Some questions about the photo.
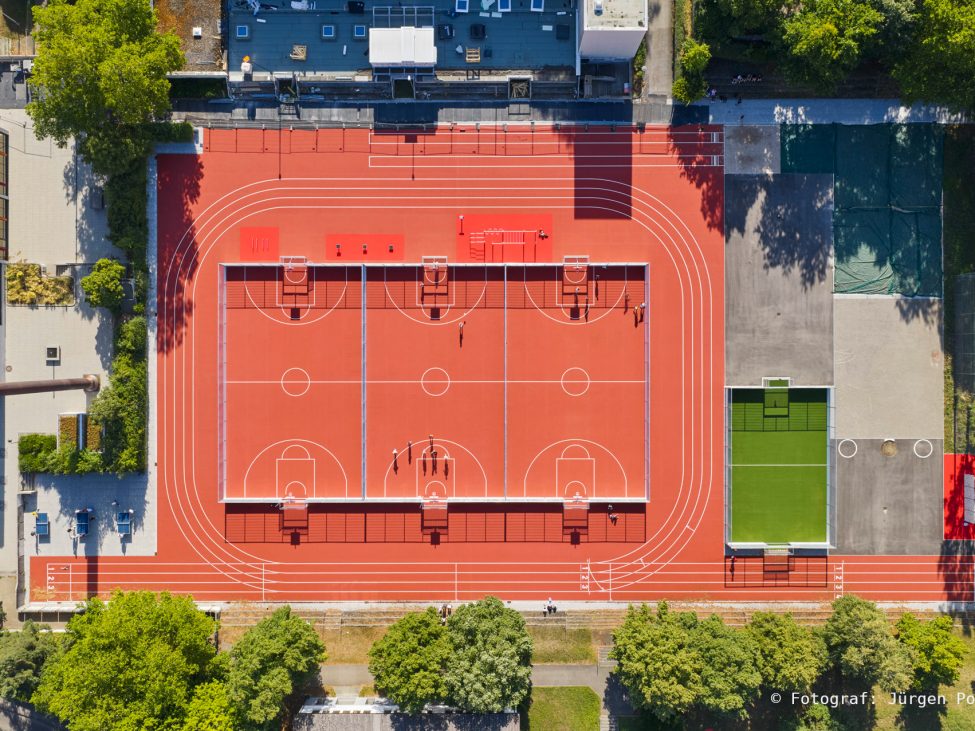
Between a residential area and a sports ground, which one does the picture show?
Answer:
sports ground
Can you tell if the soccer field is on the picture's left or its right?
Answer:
right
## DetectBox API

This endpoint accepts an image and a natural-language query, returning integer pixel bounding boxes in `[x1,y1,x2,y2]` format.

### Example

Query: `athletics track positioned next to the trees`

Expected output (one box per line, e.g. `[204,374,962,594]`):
[30,124,975,602]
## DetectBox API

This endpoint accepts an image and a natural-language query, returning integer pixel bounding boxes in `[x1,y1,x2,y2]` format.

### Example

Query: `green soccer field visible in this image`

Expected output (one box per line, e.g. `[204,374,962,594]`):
[727,379,827,551]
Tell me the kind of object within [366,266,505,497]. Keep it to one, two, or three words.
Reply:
basketball court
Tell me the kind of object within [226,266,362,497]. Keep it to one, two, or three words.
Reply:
basketball court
